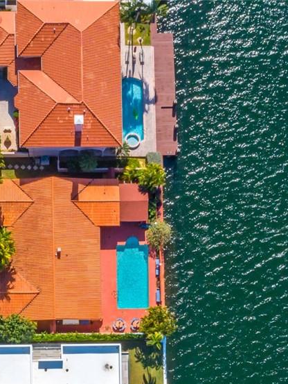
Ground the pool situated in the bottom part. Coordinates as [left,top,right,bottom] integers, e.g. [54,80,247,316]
[115,234,150,310]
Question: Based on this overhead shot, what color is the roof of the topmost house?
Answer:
orange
